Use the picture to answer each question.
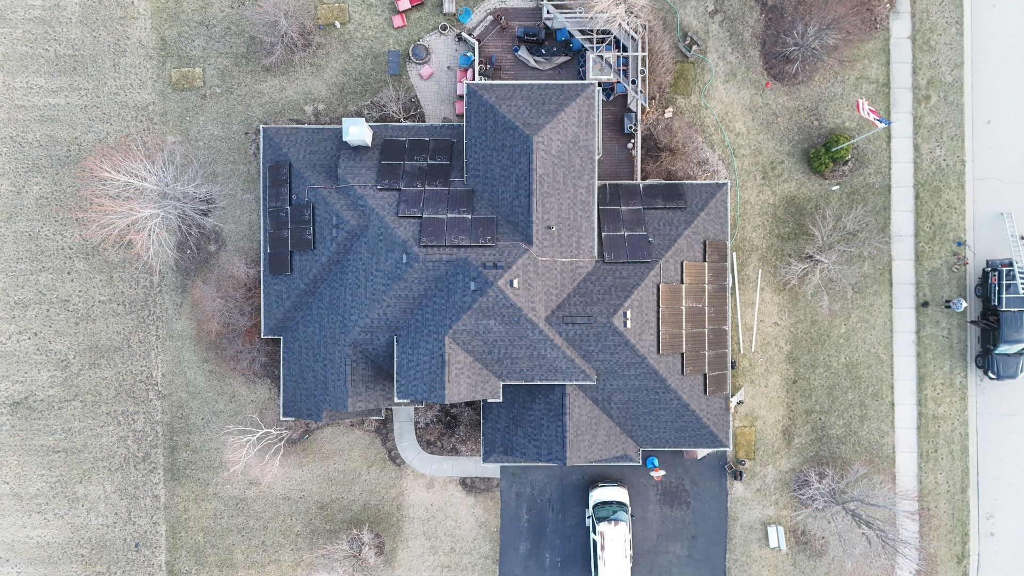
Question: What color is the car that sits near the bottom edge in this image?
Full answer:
The car that sits near the bottom edge looks white in the image.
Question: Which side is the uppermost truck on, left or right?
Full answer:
It is on the right.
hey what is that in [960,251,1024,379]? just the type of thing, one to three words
truck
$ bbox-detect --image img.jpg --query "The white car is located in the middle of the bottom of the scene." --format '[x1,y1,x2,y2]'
[583,480,635,576]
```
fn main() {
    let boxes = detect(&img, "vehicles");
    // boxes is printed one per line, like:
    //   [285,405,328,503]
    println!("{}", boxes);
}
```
[583,480,635,576]
[960,251,1024,379]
